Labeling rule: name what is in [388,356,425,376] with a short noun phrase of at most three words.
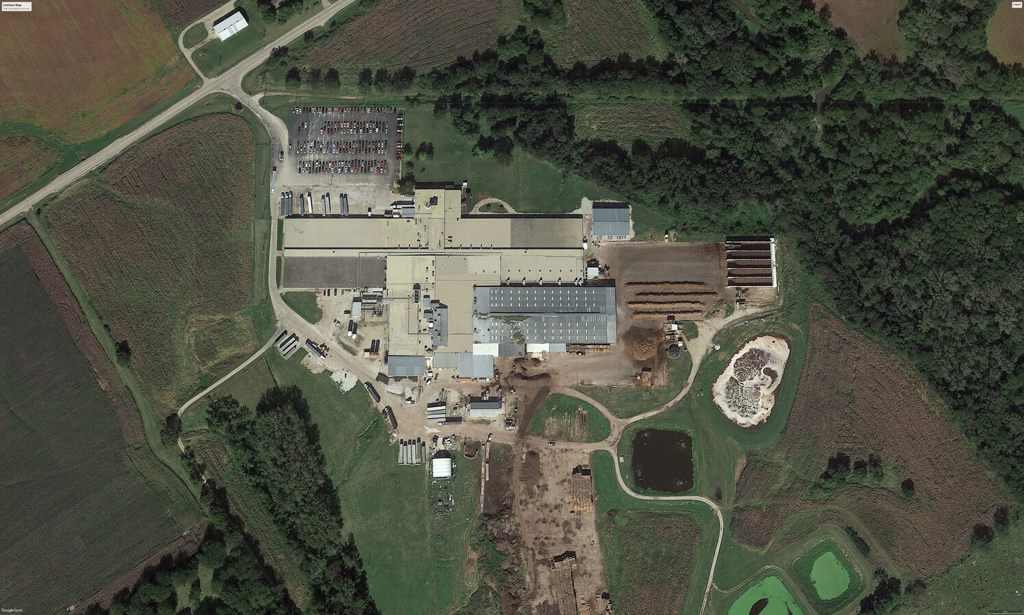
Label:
shed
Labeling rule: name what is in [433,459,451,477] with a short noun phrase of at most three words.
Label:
building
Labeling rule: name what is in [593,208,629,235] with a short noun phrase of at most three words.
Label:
building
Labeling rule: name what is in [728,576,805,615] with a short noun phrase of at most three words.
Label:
pond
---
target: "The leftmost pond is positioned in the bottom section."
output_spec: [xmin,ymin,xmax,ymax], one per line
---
[631,429,694,492]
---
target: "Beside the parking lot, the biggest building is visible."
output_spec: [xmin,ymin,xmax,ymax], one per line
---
[284,189,583,355]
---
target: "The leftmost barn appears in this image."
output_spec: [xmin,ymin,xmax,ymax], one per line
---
[213,11,248,41]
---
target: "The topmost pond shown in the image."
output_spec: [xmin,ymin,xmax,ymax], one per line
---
[712,335,790,429]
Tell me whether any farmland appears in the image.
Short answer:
Yes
